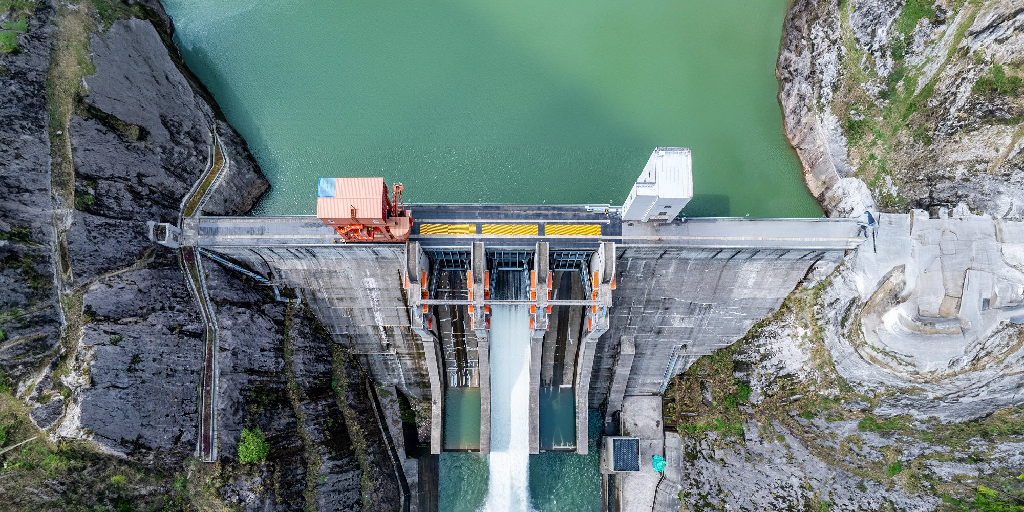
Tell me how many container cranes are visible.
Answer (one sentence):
Only 1 container crane is visible.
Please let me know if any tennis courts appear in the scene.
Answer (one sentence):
No, no tennis court is visible in the view.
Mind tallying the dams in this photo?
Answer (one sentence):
The picture shows just 1 dam.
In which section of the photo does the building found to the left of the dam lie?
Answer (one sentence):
The building found to the left of the dam is in the left part of the image.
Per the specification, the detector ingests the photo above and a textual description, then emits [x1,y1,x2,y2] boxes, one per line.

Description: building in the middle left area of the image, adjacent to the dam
[137,215,190,245]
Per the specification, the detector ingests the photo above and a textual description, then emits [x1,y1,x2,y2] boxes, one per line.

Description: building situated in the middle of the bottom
[598,434,640,474]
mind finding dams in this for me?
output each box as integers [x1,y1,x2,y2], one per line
[187,203,886,454]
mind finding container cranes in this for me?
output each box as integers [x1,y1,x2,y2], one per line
[317,176,419,245]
